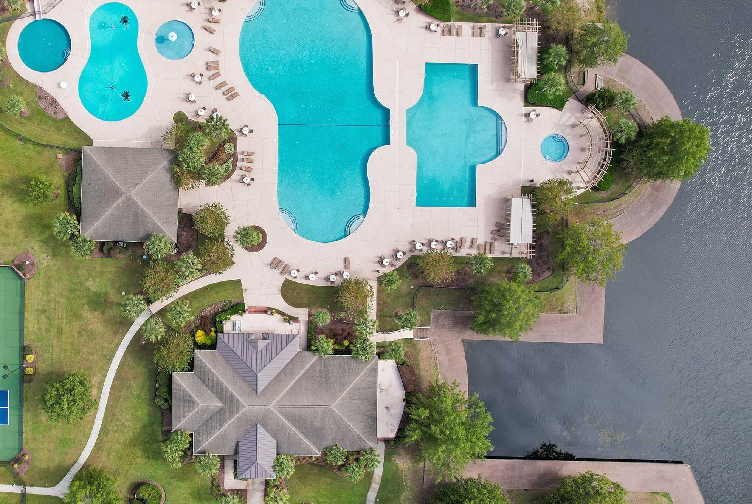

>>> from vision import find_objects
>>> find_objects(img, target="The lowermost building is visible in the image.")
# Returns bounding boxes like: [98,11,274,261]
[171,333,378,479]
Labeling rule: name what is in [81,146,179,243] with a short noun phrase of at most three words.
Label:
building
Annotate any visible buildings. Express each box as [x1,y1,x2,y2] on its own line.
[171,333,378,479]
[81,146,179,243]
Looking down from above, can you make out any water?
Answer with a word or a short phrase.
Yes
